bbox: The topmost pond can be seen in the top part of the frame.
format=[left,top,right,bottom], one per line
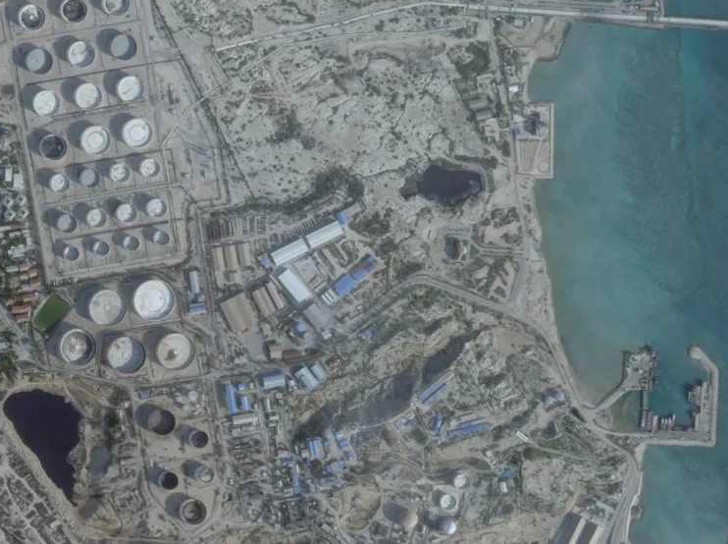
[401,164,483,206]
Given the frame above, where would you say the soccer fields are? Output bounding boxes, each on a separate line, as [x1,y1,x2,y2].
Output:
[31,291,72,333]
